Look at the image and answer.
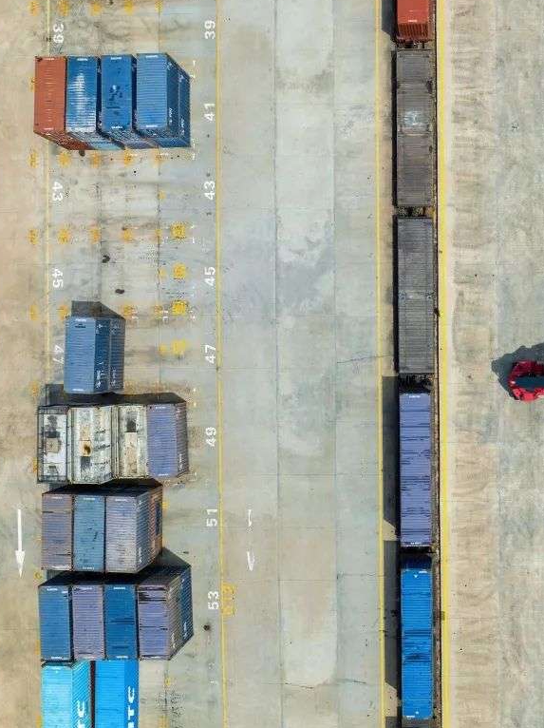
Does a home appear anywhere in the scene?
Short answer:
No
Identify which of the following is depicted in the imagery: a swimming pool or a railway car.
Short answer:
railway car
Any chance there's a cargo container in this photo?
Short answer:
Yes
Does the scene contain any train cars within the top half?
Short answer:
Yes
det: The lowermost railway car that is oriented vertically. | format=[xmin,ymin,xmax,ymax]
[400,546,436,707]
